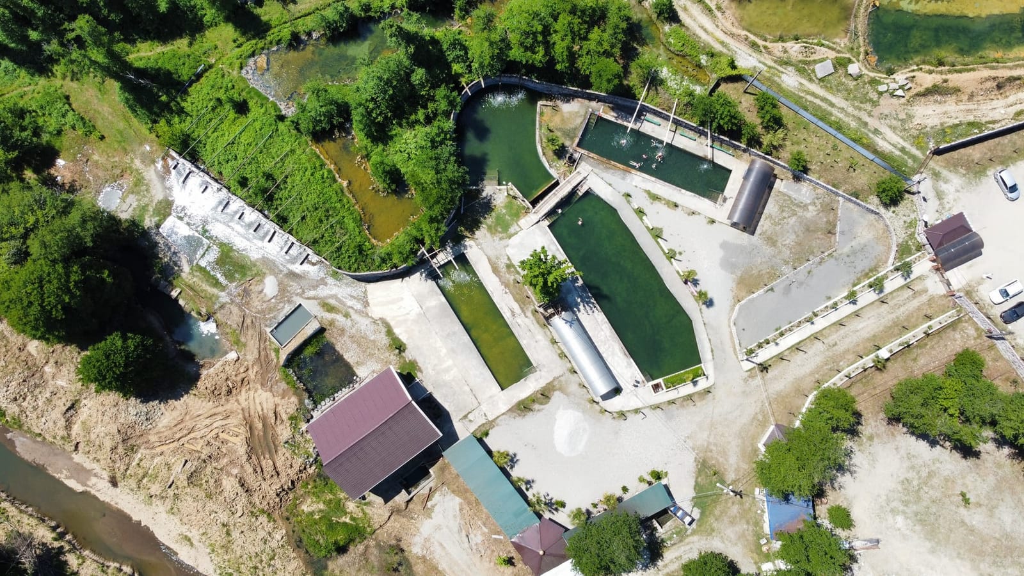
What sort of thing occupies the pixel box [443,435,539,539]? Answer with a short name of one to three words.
shed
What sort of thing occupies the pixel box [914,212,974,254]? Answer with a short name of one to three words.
house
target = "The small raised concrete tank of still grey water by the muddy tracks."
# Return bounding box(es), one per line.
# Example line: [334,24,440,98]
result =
[266,301,322,367]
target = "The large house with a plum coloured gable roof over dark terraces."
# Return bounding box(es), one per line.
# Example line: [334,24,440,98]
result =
[307,367,444,499]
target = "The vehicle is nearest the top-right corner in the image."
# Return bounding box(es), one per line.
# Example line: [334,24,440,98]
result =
[994,170,1018,200]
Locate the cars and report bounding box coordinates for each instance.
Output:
[988,281,1023,304]
[998,302,1024,324]
[994,170,1018,200]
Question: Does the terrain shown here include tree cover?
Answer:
Yes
